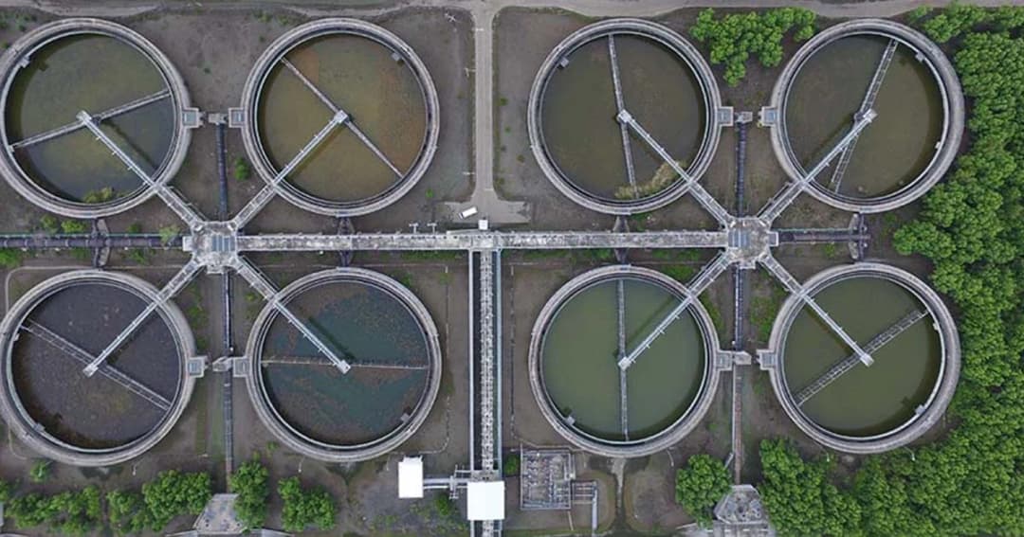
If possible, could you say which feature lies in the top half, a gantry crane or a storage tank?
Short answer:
storage tank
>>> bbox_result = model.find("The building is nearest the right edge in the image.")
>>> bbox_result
[674,481,772,537]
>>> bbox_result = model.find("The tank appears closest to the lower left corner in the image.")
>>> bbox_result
[0,270,208,464]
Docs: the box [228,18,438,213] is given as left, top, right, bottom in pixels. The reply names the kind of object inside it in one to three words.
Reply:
storage tank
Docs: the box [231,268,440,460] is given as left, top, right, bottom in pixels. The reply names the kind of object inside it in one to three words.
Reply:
storage tank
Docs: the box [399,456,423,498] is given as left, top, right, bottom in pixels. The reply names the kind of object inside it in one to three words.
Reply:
shed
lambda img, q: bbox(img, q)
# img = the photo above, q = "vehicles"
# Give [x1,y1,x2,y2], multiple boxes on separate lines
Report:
[459,206,479,219]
